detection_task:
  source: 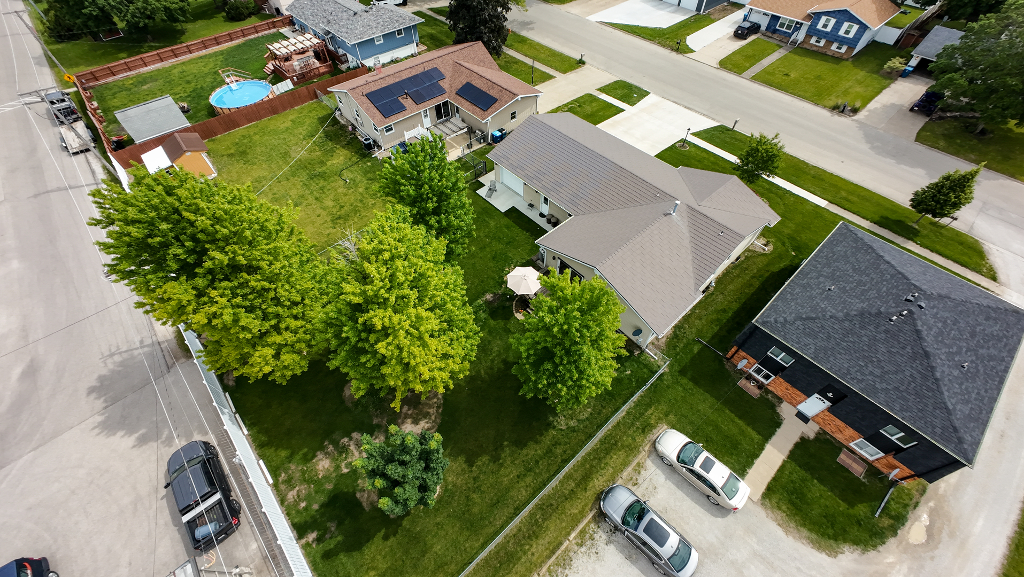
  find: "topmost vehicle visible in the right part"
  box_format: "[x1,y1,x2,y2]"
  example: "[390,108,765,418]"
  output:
[733,16,761,36]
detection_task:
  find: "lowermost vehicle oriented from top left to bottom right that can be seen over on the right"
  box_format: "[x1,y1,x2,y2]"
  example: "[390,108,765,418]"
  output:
[599,483,702,577]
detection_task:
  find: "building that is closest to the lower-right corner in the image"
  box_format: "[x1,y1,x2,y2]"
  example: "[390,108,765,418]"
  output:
[695,222,1024,517]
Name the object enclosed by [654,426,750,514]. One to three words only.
car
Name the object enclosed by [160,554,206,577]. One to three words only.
trailer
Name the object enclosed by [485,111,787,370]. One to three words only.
house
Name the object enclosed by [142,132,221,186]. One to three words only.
shed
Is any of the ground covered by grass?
Yes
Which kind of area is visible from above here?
residential area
